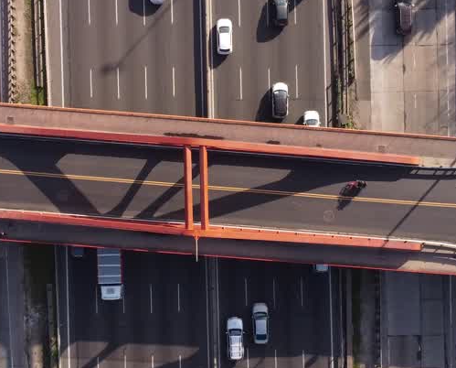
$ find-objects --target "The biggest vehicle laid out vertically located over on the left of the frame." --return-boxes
[97,248,121,299]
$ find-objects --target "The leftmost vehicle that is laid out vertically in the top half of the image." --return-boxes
[216,19,233,56]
